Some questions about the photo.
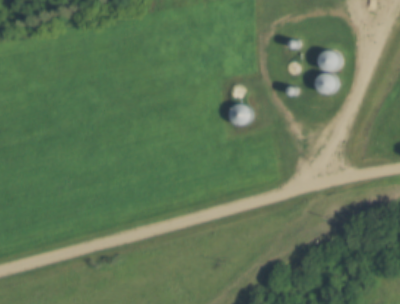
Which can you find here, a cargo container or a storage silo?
storage silo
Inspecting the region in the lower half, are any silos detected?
No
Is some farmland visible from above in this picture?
Yes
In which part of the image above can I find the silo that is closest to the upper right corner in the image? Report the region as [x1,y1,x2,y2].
[318,49,344,72]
